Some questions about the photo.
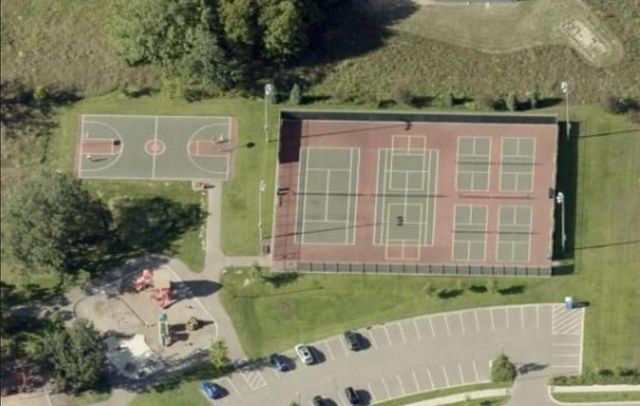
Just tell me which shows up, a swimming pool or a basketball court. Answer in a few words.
basketball court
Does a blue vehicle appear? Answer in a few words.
Yes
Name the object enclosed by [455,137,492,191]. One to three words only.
sports court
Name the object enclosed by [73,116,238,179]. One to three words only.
basketball court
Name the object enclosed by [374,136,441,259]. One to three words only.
tennis court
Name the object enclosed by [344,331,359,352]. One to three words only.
car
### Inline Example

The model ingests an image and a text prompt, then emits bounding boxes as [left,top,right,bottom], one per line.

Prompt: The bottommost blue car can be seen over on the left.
[203,380,222,401]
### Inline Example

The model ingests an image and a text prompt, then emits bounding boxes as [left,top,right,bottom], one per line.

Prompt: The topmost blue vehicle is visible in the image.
[269,353,289,372]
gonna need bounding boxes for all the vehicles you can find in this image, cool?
[312,394,326,406]
[269,353,289,372]
[343,384,359,406]
[296,345,314,367]
[344,331,359,352]
[203,380,222,401]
